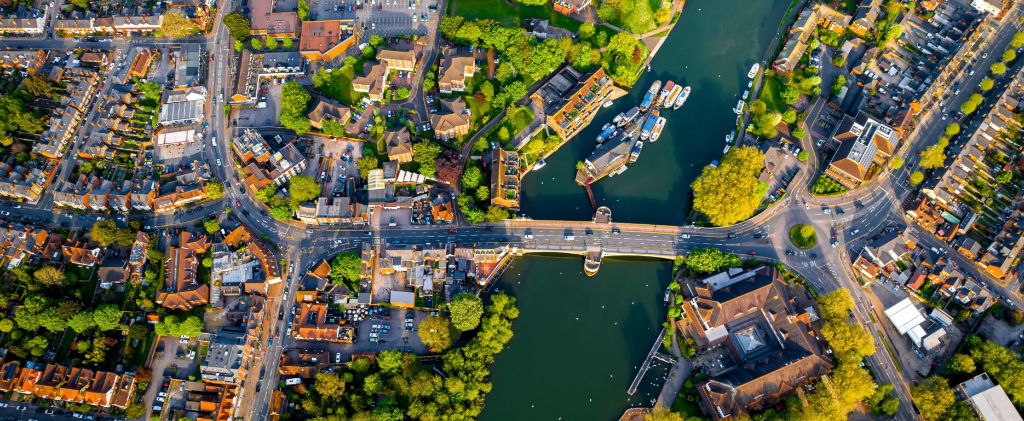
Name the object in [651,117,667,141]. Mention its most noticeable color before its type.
white boat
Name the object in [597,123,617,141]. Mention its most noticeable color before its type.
blue boat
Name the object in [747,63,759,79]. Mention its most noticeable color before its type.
white boat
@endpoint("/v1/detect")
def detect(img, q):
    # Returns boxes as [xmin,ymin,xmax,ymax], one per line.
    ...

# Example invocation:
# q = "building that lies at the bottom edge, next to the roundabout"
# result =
[674,266,832,421]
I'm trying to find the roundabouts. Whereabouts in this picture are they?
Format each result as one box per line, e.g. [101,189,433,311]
[771,207,837,267]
